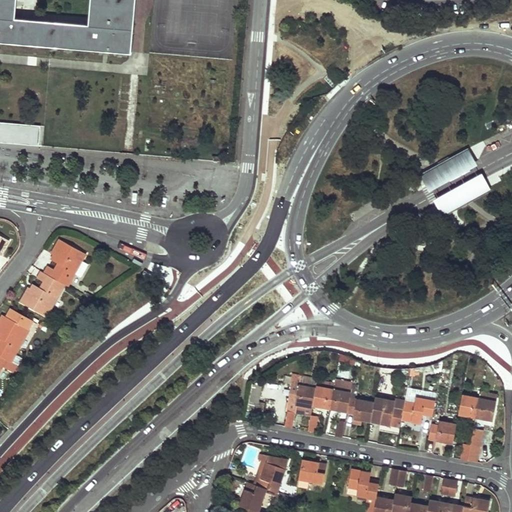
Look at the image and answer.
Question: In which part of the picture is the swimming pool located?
bottom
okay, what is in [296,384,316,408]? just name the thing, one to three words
house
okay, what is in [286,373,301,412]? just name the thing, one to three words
house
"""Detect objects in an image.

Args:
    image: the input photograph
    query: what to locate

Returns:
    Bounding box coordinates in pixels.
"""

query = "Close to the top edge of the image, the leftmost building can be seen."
[0,0,135,54]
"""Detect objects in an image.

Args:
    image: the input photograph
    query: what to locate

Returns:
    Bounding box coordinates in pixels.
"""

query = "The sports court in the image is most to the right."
[149,0,236,60]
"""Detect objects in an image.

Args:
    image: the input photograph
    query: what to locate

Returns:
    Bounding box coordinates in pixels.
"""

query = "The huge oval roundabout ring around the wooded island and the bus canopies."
[276,30,512,426]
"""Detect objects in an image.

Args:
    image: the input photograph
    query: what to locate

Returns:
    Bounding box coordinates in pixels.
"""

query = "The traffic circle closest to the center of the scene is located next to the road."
[150,190,245,270]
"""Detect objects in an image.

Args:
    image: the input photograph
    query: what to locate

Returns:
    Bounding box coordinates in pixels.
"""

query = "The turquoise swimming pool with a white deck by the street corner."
[242,444,261,476]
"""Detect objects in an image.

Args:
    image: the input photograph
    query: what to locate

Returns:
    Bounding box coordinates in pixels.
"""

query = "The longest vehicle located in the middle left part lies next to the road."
[122,244,146,259]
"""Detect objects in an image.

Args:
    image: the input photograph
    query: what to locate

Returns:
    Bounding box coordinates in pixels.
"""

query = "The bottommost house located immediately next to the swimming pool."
[238,484,266,512]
